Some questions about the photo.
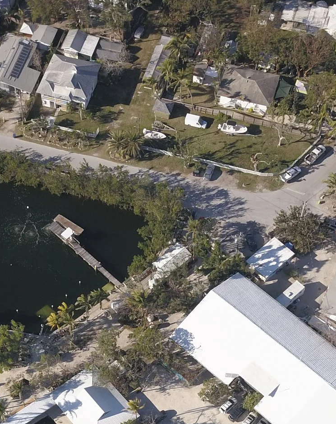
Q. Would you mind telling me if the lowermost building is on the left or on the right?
left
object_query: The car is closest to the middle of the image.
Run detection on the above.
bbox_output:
[203,165,215,182]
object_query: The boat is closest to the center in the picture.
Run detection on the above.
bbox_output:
[142,124,169,140]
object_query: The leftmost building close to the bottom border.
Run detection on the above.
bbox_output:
[53,368,140,424]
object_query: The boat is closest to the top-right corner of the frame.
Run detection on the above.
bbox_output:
[217,118,250,135]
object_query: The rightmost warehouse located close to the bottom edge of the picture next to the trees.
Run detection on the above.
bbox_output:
[171,273,336,424]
